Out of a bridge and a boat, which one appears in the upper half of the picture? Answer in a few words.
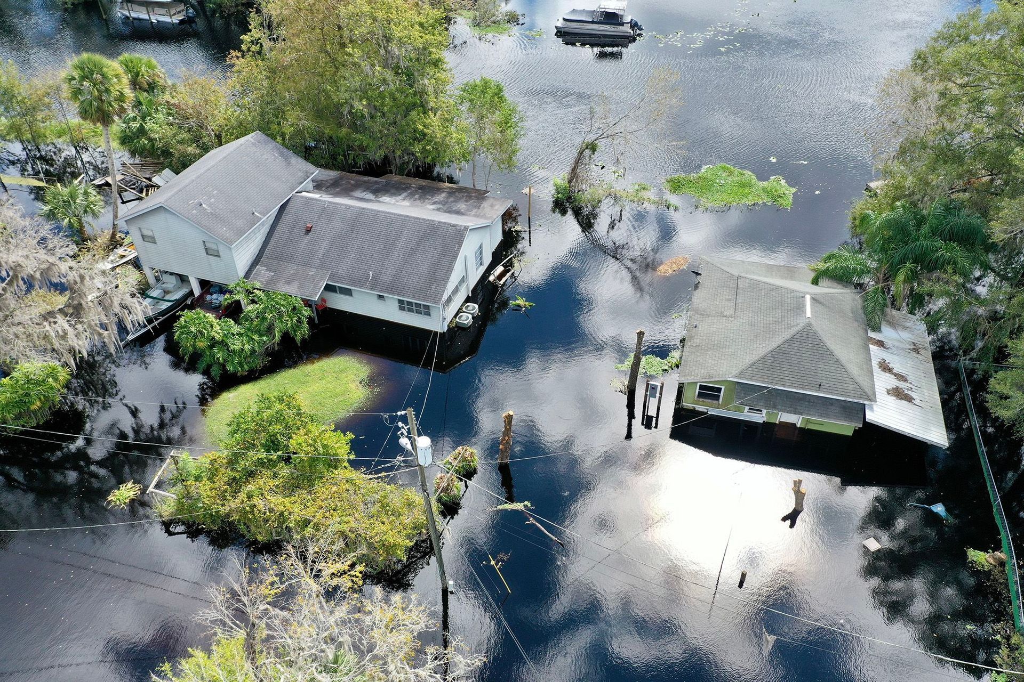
boat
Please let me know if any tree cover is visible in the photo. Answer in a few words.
Yes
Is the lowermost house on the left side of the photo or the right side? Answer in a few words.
right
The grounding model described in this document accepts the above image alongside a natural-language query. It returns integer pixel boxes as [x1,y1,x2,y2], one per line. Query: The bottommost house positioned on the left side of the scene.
[110,131,513,354]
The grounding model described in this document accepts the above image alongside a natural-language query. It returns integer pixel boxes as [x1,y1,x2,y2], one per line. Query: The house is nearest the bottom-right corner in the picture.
[678,255,948,451]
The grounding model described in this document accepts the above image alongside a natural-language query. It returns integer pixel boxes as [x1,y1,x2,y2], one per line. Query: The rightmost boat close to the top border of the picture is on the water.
[561,2,641,44]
